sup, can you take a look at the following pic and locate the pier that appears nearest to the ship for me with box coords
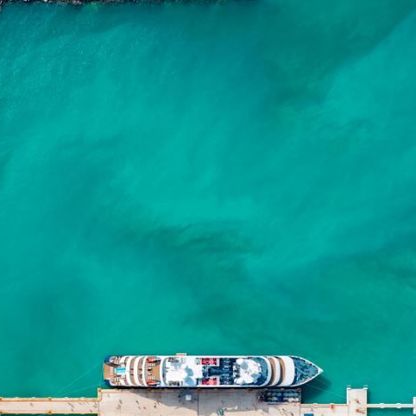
[98,387,302,416]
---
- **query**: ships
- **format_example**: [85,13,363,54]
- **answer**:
[103,353,324,388]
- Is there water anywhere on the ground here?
Yes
